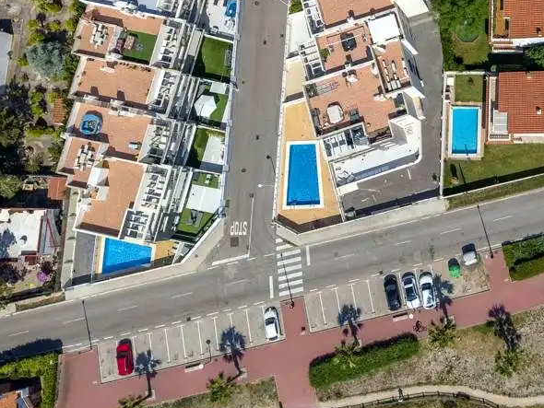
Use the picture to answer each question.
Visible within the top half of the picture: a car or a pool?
pool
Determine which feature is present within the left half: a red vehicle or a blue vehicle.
red vehicle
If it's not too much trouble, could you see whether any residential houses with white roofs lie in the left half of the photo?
Yes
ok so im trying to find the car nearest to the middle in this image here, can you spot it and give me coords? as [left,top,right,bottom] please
[259,305,281,346]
